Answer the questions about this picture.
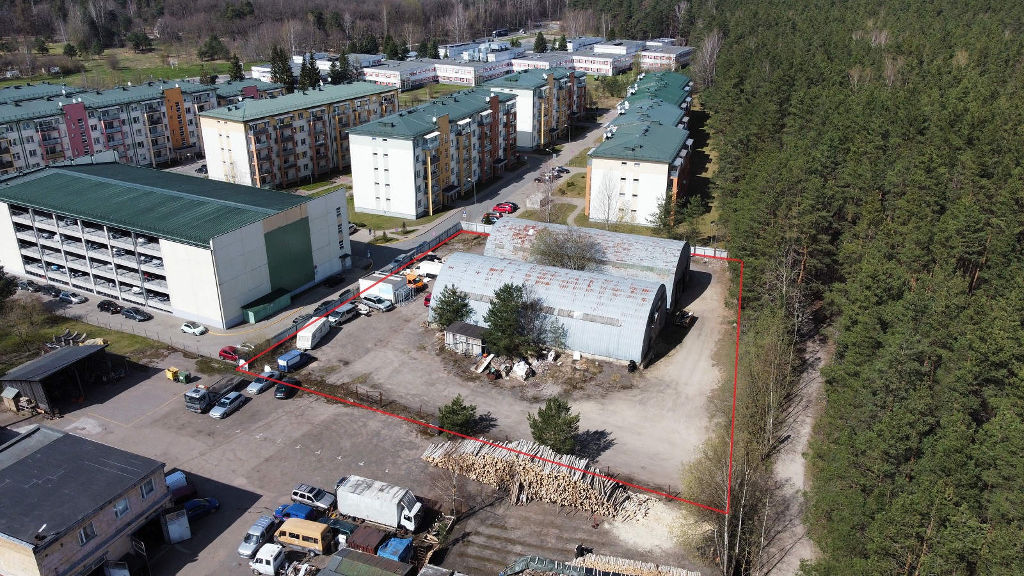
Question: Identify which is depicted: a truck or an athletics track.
truck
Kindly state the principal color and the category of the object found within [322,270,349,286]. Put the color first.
black car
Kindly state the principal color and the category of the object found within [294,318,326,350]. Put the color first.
white camper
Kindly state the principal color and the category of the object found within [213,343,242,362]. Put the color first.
red car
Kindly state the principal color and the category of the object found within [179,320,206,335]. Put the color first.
white car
